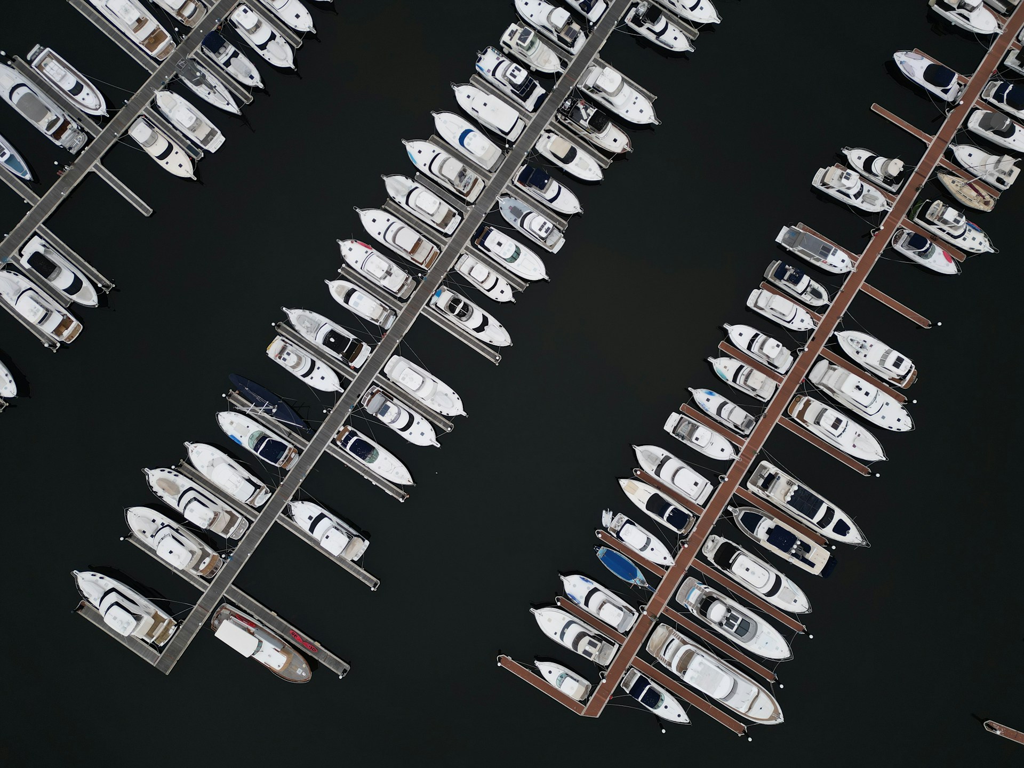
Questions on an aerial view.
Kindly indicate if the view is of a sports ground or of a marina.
marina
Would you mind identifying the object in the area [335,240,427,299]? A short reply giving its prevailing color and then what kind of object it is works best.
white boat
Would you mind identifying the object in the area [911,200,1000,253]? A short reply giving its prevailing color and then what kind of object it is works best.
white boat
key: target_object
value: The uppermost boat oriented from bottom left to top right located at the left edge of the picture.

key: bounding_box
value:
[24,42,43,63]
